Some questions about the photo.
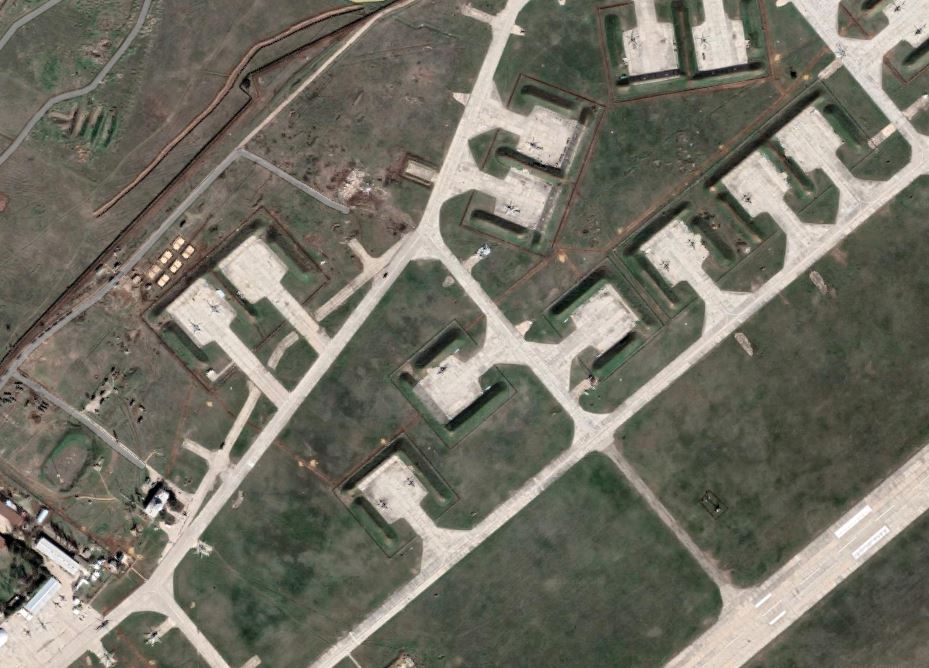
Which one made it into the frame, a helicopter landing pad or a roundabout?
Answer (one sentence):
Visible in the photo is a helicopter landing pad.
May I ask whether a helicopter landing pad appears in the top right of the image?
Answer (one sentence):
Yes, a helicopter landing pad is visible in the top right of the image.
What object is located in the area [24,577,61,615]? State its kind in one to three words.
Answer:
hangar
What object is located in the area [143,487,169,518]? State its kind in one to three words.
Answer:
building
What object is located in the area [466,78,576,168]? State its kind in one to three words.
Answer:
helipad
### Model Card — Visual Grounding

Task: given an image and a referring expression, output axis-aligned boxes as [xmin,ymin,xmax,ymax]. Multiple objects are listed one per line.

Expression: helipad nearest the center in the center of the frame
[421,320,531,418]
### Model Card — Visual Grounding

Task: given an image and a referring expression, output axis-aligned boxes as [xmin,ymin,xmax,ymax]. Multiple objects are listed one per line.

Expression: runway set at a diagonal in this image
[662,446,929,668]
